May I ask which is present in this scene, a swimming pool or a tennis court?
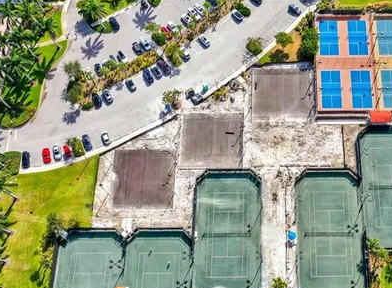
tennis court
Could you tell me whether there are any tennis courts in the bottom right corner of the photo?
Yes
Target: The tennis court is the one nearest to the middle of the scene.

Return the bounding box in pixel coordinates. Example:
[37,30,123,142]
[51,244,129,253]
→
[180,111,244,167]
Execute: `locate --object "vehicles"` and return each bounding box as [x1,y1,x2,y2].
[108,15,120,29]
[231,8,244,20]
[102,88,113,103]
[100,53,110,63]
[182,85,197,98]
[288,1,302,13]
[180,11,193,24]
[159,25,172,37]
[84,62,94,76]
[251,0,263,5]
[199,34,211,47]
[139,36,151,49]
[131,40,143,54]
[193,0,206,13]
[62,142,72,157]
[42,148,51,162]
[189,92,208,105]
[150,63,162,77]
[91,92,101,107]
[52,143,62,159]
[21,150,30,166]
[141,0,150,9]
[93,62,101,76]
[156,56,170,73]
[142,66,153,81]
[81,133,91,149]
[187,5,200,18]
[101,129,110,145]
[166,19,178,31]
[124,77,137,91]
